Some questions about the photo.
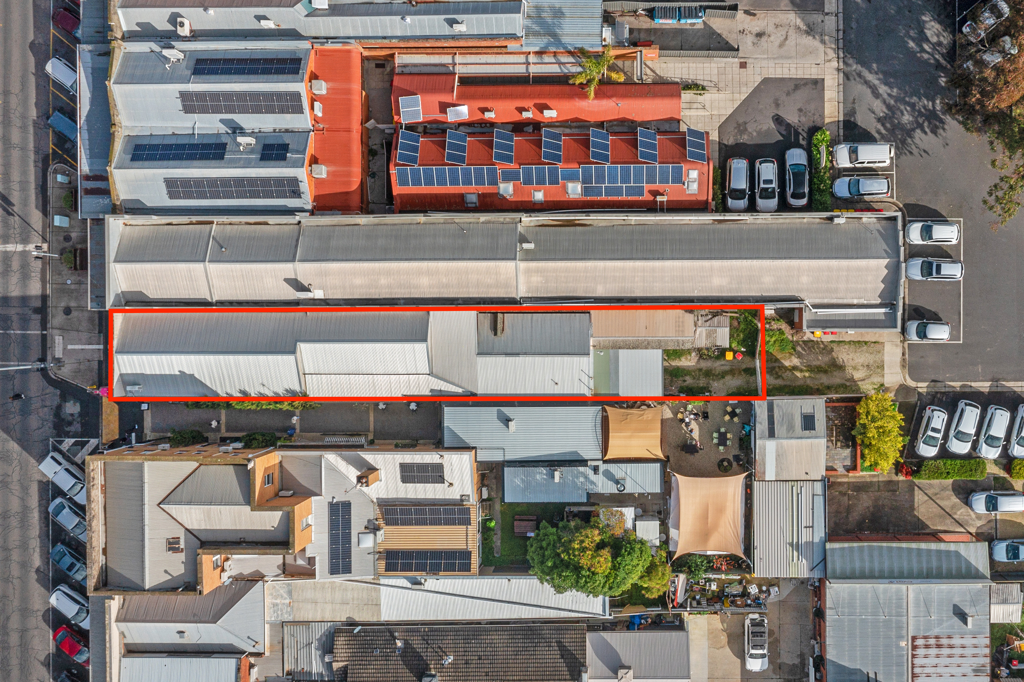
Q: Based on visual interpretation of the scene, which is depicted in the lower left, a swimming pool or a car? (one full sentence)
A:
It is a car that can be seen in the lower left.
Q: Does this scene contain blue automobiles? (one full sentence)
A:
Yes, the frame does contain a blue automobile.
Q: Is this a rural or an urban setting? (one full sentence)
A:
The area shown here is urban.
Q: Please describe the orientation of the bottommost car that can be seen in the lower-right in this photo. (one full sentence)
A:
The bottommost car that can be seen in the lower-right runs vertically in the image.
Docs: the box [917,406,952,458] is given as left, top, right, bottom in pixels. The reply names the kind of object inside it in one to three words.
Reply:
car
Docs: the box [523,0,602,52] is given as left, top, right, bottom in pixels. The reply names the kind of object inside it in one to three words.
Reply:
shed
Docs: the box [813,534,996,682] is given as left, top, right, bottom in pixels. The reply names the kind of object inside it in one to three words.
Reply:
building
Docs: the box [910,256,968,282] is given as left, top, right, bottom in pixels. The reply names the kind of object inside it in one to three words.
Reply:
car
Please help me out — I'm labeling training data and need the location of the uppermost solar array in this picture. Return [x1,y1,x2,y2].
[192,56,301,73]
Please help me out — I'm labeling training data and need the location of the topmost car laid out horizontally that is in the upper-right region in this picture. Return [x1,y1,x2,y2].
[835,140,902,168]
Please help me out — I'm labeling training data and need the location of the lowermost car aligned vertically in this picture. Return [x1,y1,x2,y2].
[745,616,774,677]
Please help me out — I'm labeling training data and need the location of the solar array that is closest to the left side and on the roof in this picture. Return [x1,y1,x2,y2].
[130,141,227,159]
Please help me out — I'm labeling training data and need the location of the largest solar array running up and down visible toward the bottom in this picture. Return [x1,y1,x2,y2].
[328,503,351,576]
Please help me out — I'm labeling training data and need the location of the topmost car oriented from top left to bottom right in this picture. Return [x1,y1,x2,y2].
[44,2,97,44]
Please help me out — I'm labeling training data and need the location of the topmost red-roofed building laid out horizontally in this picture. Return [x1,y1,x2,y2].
[393,74,683,132]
